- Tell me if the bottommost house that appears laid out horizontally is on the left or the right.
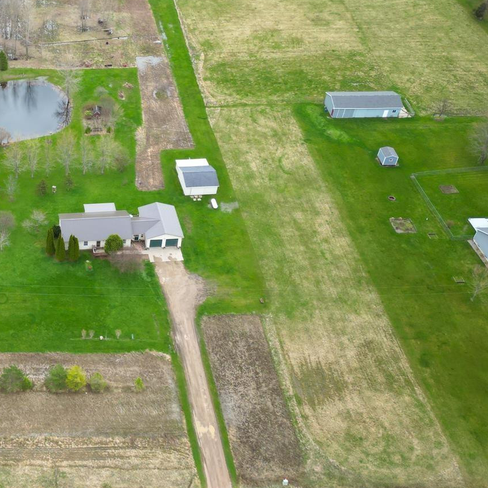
left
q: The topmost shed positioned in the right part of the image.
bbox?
[324,91,403,117]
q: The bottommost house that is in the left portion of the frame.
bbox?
[60,201,185,254]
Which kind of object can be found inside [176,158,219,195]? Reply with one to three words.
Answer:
barn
